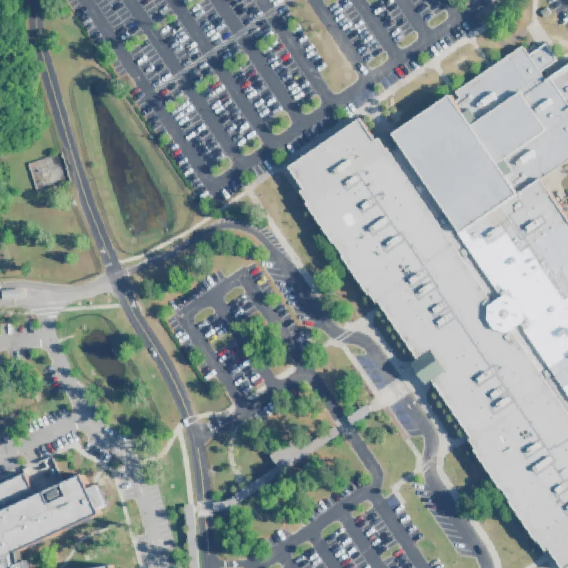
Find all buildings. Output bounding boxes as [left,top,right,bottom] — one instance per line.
[289,44,568,568]
[28,156,69,190]
[0,470,116,568]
